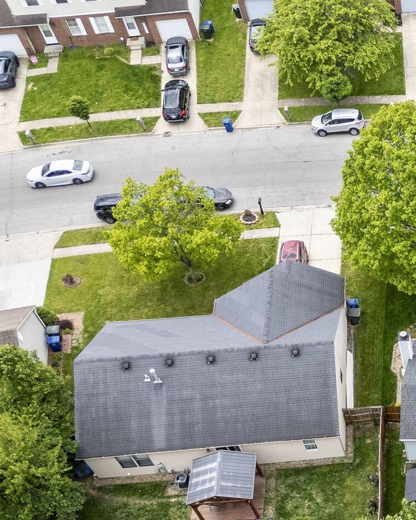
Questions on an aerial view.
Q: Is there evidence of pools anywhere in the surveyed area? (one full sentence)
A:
No, no pool can be seen from above.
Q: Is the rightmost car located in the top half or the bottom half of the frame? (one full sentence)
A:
Seen from above, the rightmost car lies in the top half of the view.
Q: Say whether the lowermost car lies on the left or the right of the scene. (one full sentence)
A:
It is on the right.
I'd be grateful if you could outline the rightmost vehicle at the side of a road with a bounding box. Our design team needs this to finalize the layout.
[310,106,367,137]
